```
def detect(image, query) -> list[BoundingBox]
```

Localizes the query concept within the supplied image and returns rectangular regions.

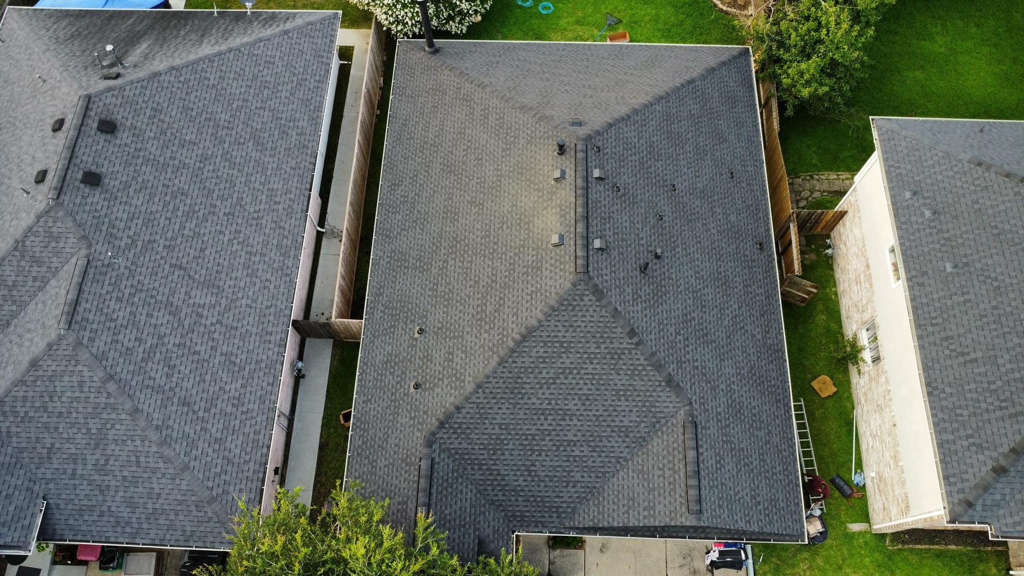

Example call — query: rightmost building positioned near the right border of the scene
[828,117,1024,541]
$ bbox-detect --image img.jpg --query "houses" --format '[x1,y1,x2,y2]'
[828,117,1024,541]
[0,0,354,551]
[338,0,807,576]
